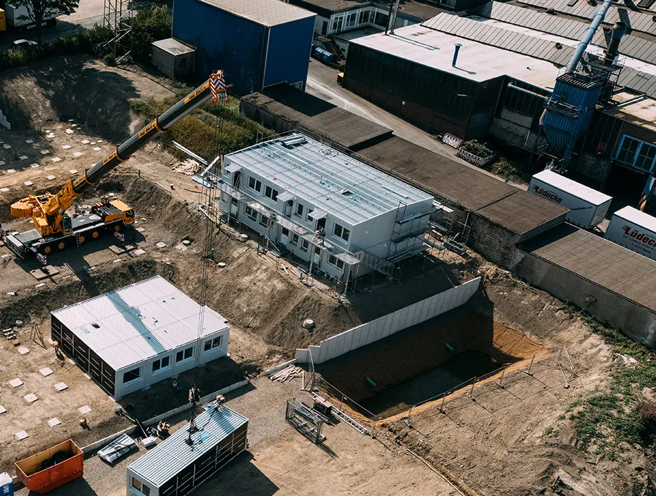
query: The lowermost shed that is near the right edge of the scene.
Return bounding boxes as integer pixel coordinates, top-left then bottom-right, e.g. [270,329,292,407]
[514,222,656,335]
